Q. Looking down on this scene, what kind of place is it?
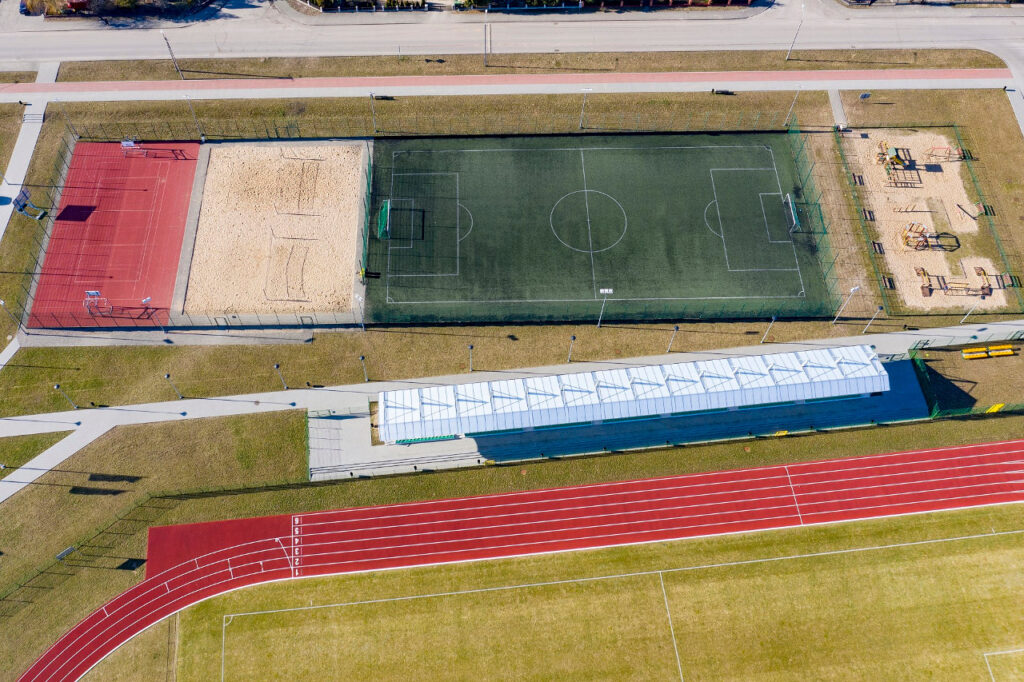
sports ground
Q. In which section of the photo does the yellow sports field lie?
bottom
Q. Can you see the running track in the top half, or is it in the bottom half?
bottom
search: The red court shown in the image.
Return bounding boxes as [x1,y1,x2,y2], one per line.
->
[28,142,200,326]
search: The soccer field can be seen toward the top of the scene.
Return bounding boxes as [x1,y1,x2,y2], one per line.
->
[364,131,834,321]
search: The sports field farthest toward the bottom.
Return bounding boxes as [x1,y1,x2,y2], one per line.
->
[177,504,1024,682]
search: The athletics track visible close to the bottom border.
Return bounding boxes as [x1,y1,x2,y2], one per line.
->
[14,439,1024,682]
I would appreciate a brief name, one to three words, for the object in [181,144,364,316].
sports court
